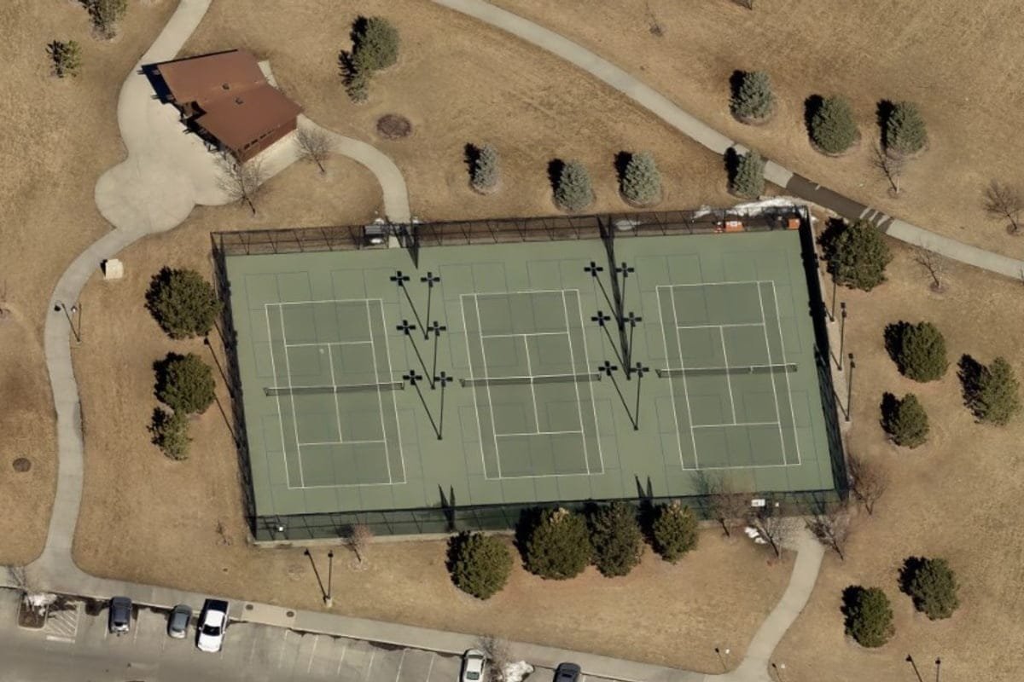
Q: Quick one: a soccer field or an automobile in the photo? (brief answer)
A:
automobile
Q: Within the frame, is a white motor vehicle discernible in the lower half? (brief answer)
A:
Yes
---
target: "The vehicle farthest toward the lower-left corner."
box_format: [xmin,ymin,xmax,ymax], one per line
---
[106,594,133,635]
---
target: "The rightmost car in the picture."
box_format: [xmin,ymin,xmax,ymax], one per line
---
[557,662,580,682]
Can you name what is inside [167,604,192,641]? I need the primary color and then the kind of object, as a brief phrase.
gray car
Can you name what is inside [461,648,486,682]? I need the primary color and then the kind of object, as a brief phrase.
white car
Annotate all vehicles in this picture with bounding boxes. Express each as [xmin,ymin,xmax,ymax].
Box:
[167,604,192,641]
[106,594,133,635]
[461,648,486,682]
[198,599,229,655]
[557,662,580,682]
